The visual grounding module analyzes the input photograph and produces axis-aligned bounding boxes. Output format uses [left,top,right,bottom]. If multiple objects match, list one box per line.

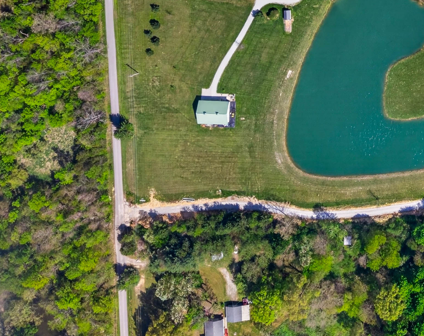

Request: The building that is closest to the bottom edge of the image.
[204,317,225,336]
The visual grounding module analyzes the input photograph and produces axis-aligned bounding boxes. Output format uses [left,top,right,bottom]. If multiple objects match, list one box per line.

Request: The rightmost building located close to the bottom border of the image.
[226,303,252,322]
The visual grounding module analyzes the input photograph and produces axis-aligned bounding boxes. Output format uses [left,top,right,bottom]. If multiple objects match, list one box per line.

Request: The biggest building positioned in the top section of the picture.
[198,100,231,125]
